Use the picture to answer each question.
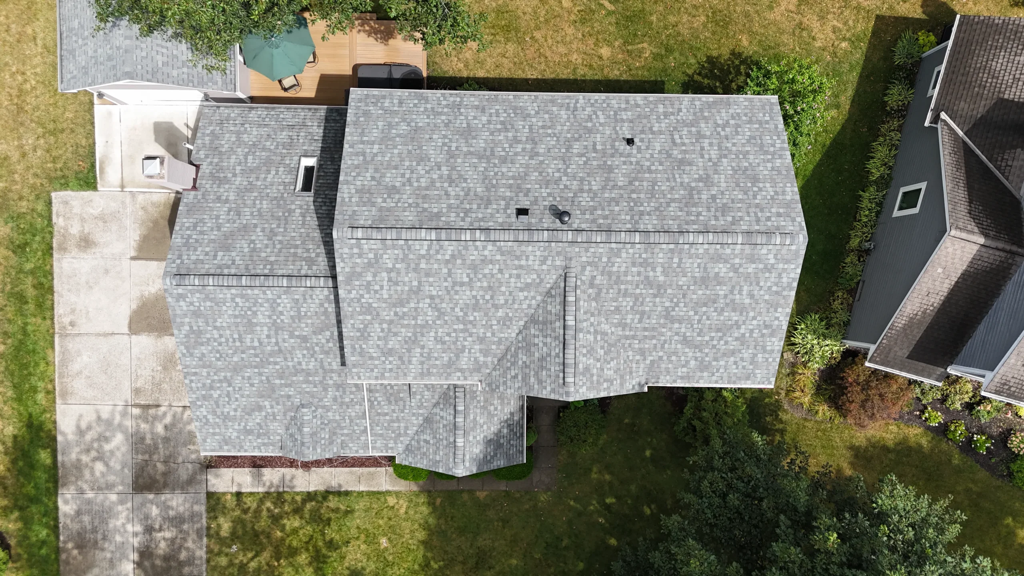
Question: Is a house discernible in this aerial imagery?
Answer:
Yes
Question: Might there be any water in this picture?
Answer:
No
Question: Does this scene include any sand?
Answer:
No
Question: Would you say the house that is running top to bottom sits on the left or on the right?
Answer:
right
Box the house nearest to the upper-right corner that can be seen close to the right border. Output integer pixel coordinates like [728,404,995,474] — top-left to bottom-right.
[841,15,1024,407]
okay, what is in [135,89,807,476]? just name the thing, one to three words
house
